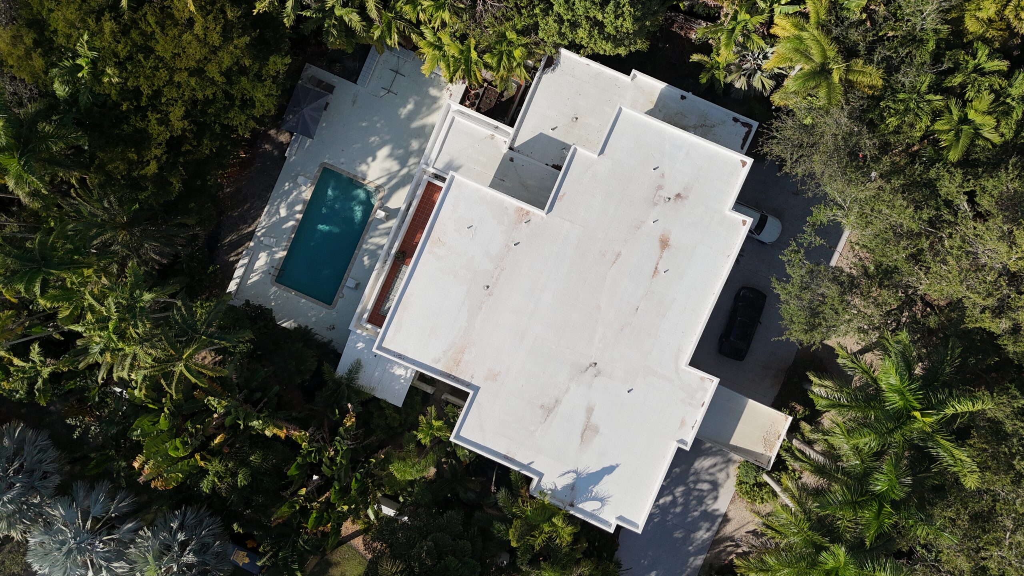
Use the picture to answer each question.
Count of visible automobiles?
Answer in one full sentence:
Altogether the scene contains 2 automobiles.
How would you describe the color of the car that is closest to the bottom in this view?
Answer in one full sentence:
The car that is closest to the bottom looks black in the image.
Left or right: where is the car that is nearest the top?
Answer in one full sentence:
It is on the right.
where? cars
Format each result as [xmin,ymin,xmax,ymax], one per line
[732,199,781,244]
[717,285,768,362]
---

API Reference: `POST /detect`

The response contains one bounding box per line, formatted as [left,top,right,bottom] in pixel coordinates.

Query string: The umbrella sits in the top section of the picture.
[279,85,331,142]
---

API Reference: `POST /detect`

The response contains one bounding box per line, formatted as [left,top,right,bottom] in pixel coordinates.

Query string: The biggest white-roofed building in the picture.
[348,45,758,533]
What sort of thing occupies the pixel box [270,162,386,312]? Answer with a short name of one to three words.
swimming pool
